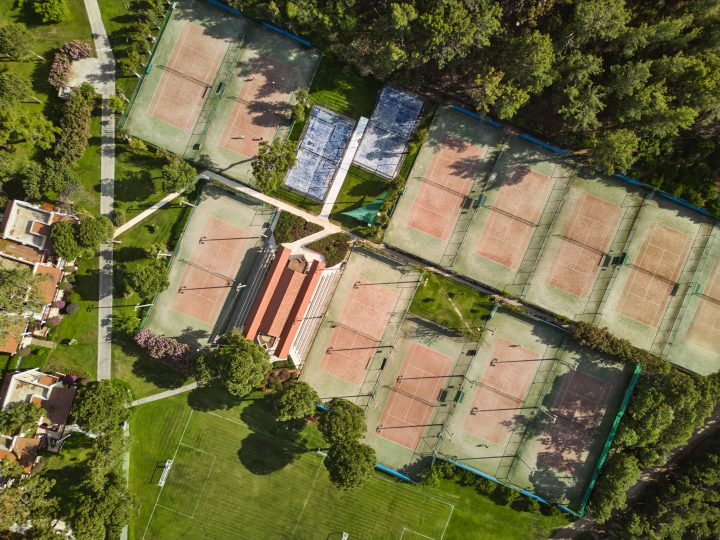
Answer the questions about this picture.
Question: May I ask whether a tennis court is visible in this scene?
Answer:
Yes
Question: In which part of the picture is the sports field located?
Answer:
bottom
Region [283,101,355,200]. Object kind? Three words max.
sports court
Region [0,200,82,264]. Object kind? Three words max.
house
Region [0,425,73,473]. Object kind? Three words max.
house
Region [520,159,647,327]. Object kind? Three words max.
tennis court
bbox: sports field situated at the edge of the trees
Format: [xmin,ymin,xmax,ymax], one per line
[140,406,458,540]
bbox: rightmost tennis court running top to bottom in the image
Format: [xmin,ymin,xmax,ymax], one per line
[660,217,720,377]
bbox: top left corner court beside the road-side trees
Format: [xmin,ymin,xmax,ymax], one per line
[120,0,253,161]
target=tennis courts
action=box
[353,314,480,486]
[120,0,253,161]
[590,188,717,356]
[506,333,632,508]
[450,129,577,298]
[380,101,508,270]
[194,24,323,191]
[297,246,423,416]
[438,304,566,479]
[520,159,647,327]
[146,186,273,354]
[660,217,720,377]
